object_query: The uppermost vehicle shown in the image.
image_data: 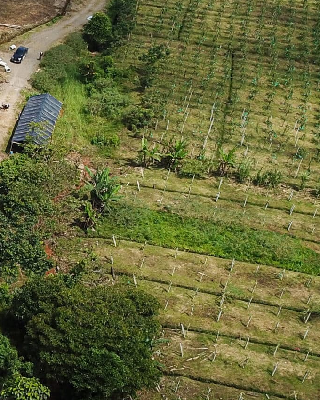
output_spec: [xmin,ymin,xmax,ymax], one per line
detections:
[12,45,28,60]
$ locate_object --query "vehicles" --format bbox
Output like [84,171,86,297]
[12,45,28,60]
[0,105,9,111]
